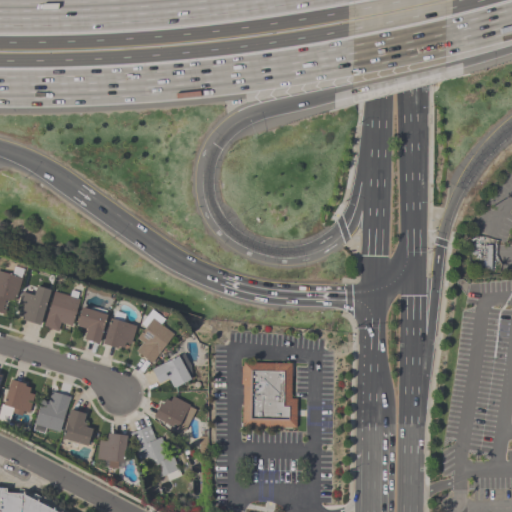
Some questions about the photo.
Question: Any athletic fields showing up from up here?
No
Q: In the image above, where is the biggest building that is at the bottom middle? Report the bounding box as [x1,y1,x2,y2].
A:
[244,362,298,428]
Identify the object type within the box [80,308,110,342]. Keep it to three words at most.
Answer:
house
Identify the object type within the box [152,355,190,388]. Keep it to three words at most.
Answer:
house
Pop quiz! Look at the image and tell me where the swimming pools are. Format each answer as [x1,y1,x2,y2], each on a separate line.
[71,446,92,459]
[125,460,138,482]
[120,304,138,322]
[190,417,199,440]
[88,296,108,306]
[188,342,198,361]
